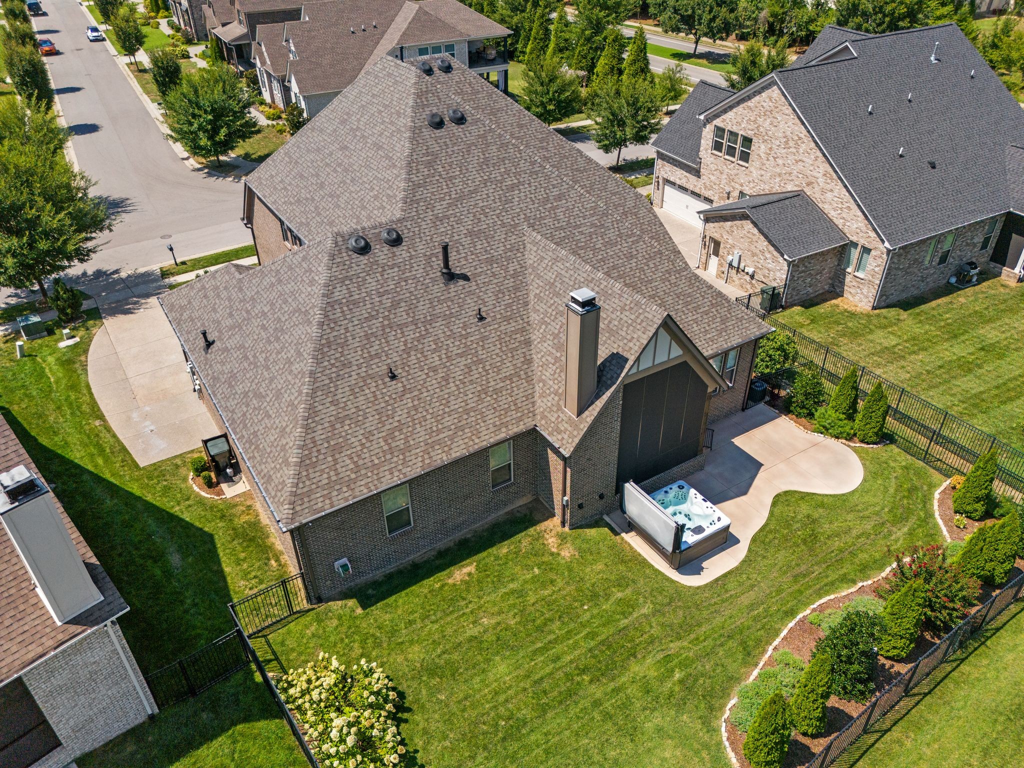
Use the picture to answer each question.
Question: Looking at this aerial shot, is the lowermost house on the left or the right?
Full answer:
You can find the lowermost house on the left side of the picture.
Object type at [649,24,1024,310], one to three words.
house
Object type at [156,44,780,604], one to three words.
house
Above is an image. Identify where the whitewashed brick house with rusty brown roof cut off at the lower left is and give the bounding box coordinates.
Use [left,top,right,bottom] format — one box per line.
[0,414,158,768]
